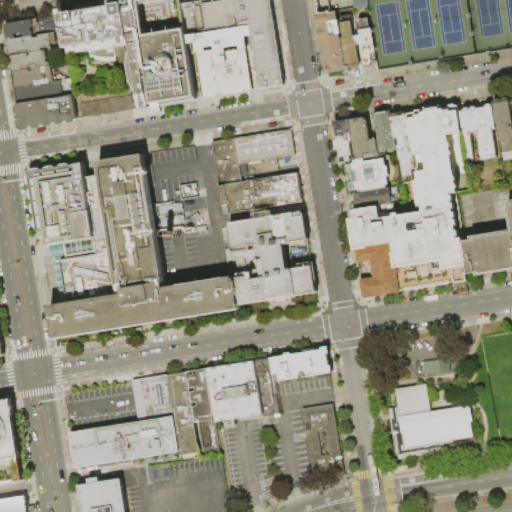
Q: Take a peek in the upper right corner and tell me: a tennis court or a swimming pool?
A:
tennis court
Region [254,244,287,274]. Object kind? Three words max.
building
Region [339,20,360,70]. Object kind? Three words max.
house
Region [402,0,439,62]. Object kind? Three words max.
tennis court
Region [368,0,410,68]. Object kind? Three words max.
tennis court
